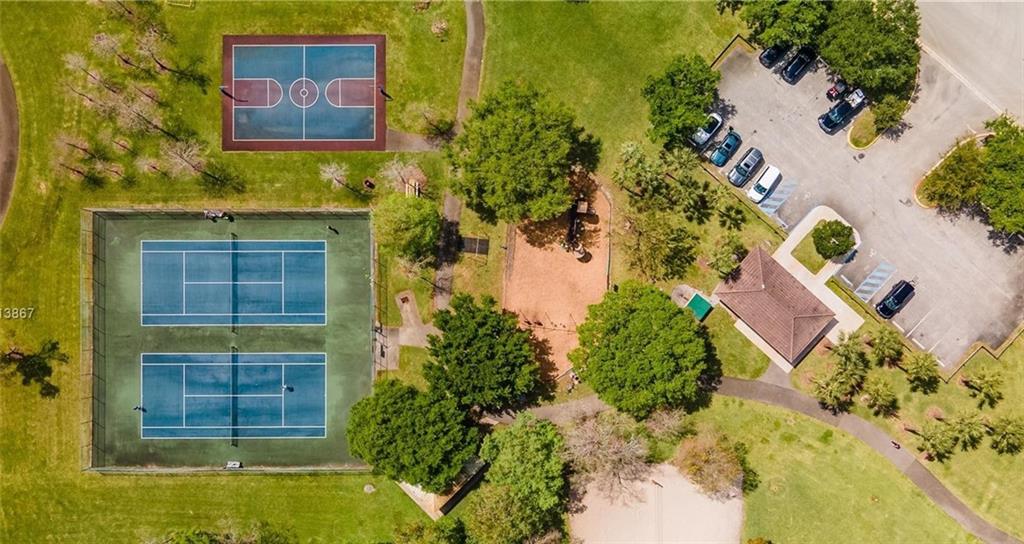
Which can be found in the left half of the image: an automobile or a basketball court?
basketball court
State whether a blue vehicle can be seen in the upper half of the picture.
Yes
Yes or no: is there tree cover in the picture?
Yes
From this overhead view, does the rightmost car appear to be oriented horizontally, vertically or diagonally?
diagonally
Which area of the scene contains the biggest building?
right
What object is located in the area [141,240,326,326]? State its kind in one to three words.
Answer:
tennis court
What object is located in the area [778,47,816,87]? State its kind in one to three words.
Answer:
car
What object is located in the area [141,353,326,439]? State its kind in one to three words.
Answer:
tennis court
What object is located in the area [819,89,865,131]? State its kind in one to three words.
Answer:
truck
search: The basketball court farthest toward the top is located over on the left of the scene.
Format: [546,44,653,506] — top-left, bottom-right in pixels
[222,35,386,151]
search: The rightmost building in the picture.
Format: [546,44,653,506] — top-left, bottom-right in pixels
[716,246,835,362]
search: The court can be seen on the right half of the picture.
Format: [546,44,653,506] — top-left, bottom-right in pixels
[570,461,743,544]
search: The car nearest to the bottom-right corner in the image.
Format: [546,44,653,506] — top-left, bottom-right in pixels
[876,279,913,319]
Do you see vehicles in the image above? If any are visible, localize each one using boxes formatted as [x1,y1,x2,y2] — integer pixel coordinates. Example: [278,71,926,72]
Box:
[727,146,765,187]
[746,164,783,204]
[690,111,724,148]
[819,89,865,131]
[709,130,743,167]
[778,47,816,87]
[756,37,790,71]
[876,279,913,319]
